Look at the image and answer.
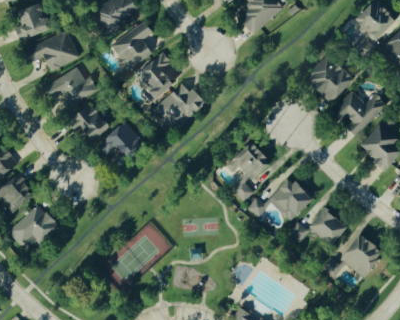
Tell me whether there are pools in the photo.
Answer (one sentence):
Yes, the photo shows a pool.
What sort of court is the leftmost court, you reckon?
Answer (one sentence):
The leftmost court can be classified as a tennis court.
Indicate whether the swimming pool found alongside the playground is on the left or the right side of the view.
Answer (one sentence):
You can find the swimming pool found alongside the playground on the right side of the picture.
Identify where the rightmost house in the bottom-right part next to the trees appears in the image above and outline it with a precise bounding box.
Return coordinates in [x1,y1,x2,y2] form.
[344,236,383,278]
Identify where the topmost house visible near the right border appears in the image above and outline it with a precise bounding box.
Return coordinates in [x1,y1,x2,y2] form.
[362,2,394,43]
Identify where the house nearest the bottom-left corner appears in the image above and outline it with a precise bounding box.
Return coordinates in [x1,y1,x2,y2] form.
[13,206,61,248]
